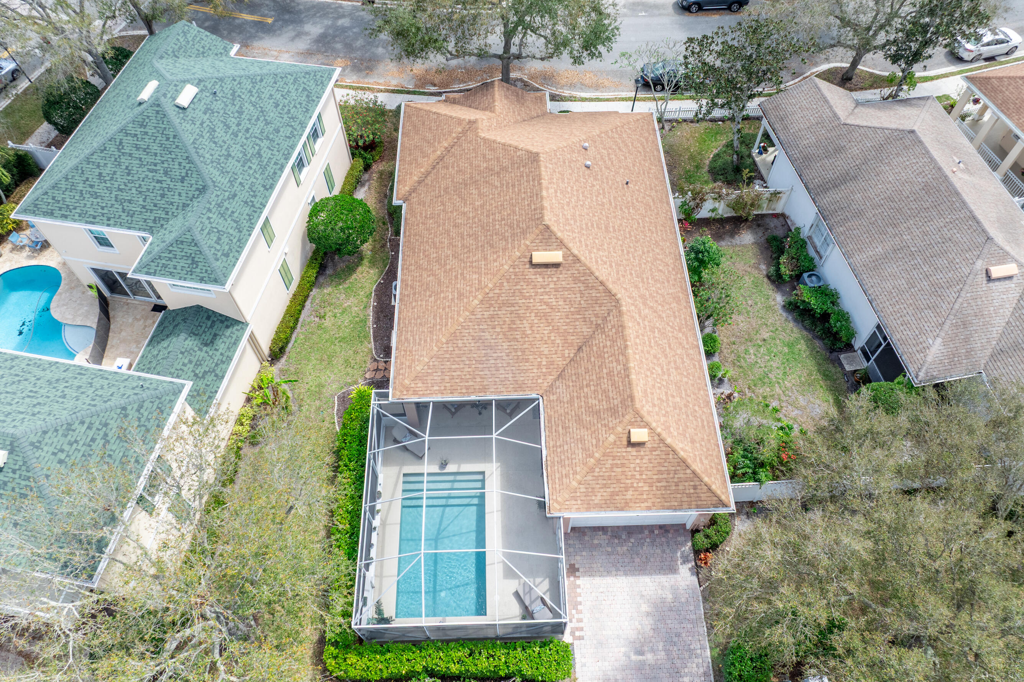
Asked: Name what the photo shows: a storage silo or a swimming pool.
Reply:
swimming pool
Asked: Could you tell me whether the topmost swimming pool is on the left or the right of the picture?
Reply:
left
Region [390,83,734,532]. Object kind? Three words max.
house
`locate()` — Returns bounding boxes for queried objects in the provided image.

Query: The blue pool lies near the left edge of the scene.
[0,265,95,362]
